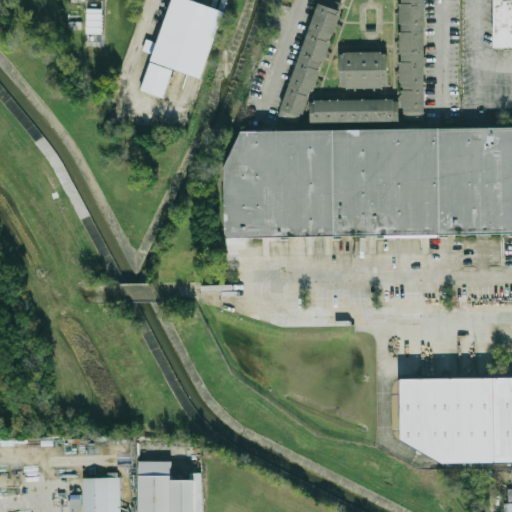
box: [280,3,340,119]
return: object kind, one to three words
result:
building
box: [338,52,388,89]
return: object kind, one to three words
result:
building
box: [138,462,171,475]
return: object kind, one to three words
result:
shed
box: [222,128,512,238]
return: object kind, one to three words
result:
warehouse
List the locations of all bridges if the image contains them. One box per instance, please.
[108,283,158,304]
